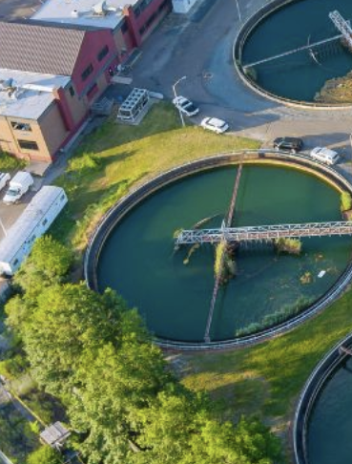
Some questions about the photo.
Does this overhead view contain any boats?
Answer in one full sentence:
No, the photo shows no boat.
